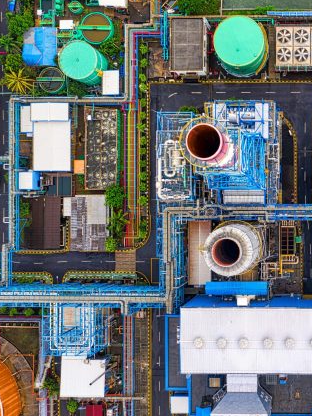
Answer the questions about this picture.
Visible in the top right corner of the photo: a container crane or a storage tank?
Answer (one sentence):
You can see a storage tank in the top right corner of the photo.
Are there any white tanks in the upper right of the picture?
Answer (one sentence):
No, no white tank appears in the upper right of the picture.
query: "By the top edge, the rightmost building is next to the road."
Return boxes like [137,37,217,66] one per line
[170,17,207,82]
